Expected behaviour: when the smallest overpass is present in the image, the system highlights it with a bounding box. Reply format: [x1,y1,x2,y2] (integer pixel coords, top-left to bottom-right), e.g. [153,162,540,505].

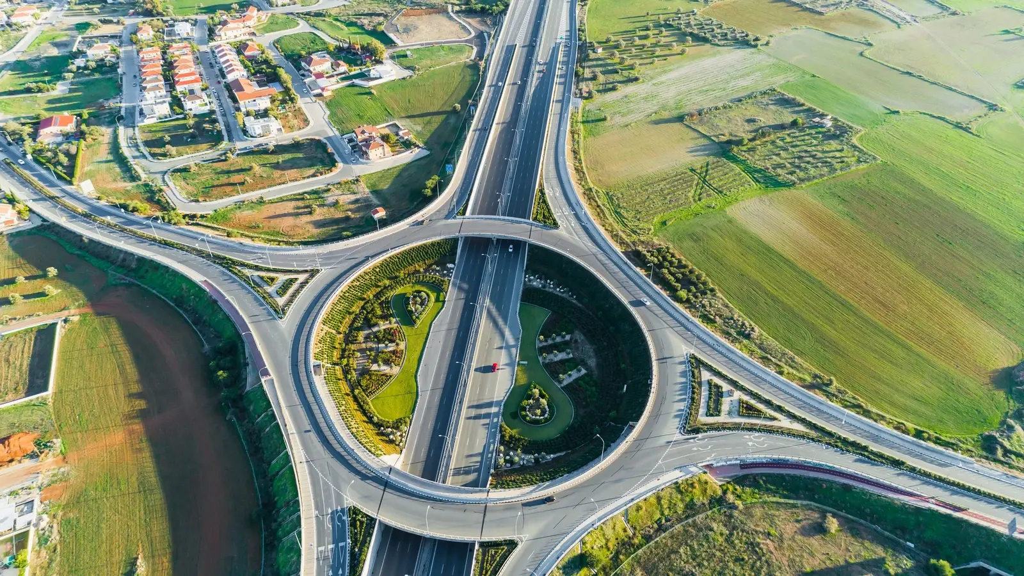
[448,213,565,255]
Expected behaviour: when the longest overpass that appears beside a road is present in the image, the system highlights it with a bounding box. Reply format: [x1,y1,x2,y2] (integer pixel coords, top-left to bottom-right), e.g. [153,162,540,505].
[339,476,542,554]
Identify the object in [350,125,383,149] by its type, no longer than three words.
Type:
house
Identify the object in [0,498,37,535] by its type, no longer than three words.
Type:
shed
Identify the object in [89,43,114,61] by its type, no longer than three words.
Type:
house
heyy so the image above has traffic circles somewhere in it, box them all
[32,14,767,576]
